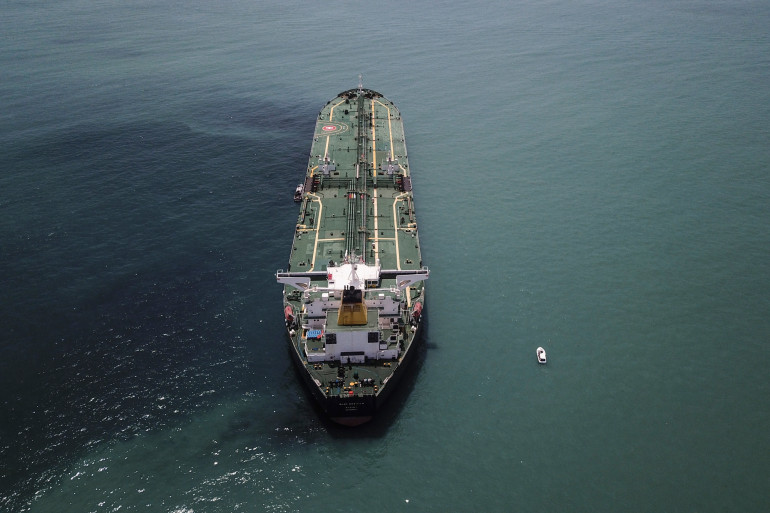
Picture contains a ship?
Yes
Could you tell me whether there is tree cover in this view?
No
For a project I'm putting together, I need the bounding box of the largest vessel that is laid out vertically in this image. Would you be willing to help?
[272,77,433,425]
